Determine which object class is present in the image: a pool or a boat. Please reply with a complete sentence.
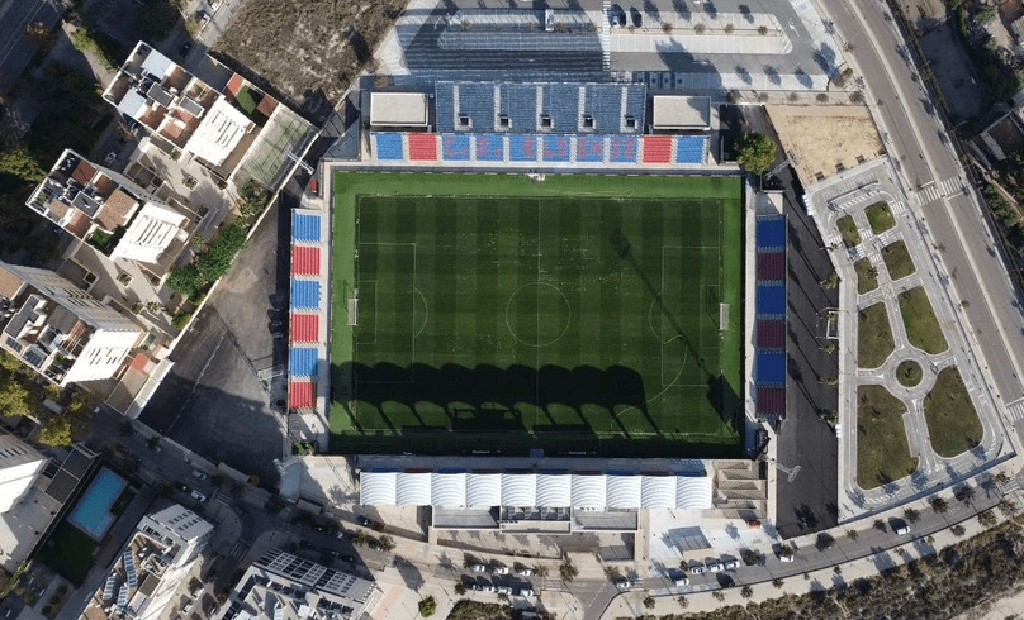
The image shows a pool.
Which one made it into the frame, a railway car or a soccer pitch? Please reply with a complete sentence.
Of the two, only a soccer pitch appears.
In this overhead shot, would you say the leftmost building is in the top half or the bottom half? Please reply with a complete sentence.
The bottom half of the photo is where the leftmost building is.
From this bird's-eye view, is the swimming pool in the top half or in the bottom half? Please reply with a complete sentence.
It is in the bottom half that the swimming pool appears.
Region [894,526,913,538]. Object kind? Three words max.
vehicle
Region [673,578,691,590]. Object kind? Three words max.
vehicle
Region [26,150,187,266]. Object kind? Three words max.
building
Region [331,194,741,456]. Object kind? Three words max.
soccer field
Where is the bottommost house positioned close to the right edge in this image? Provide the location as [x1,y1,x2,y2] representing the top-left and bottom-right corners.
[989,115,1024,168]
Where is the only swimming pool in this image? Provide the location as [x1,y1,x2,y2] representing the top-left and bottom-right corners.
[68,466,128,539]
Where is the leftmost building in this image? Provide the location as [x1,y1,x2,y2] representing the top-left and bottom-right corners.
[0,428,44,514]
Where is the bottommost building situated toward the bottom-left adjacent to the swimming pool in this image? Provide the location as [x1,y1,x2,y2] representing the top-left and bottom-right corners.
[75,503,212,620]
